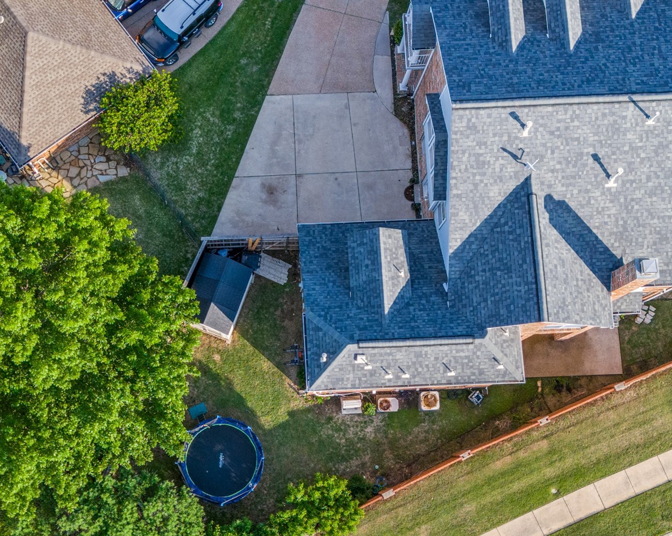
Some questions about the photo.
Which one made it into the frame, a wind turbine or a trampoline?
trampoline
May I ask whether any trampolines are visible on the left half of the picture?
Yes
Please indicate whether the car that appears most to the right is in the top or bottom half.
top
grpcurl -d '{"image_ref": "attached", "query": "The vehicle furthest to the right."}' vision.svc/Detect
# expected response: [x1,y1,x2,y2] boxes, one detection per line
[136,0,225,69]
